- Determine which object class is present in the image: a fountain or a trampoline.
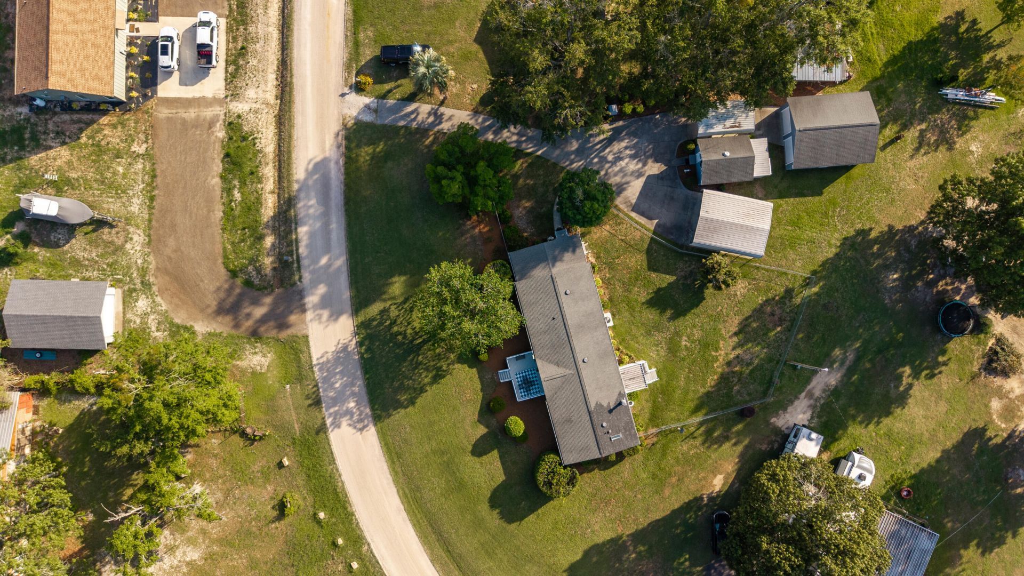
trampoline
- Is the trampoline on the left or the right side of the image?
right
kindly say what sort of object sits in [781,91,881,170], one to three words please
building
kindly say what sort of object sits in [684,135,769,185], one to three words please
shed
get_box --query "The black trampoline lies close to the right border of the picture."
[934,301,974,336]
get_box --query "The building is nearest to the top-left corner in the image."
[15,0,135,102]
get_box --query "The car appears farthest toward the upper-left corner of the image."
[158,27,183,73]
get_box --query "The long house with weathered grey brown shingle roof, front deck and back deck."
[507,229,640,465]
